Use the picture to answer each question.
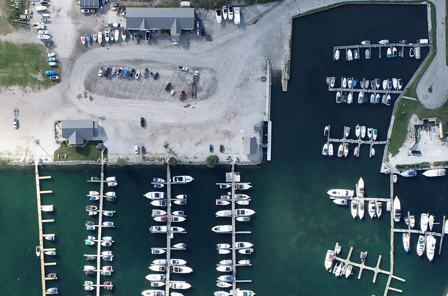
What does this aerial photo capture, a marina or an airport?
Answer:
marina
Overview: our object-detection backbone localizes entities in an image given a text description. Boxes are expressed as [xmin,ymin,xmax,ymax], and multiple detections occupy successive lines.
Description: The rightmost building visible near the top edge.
[126,5,194,42]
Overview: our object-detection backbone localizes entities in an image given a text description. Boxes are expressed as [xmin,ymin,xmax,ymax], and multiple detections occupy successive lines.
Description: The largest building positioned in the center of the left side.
[61,118,100,147]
